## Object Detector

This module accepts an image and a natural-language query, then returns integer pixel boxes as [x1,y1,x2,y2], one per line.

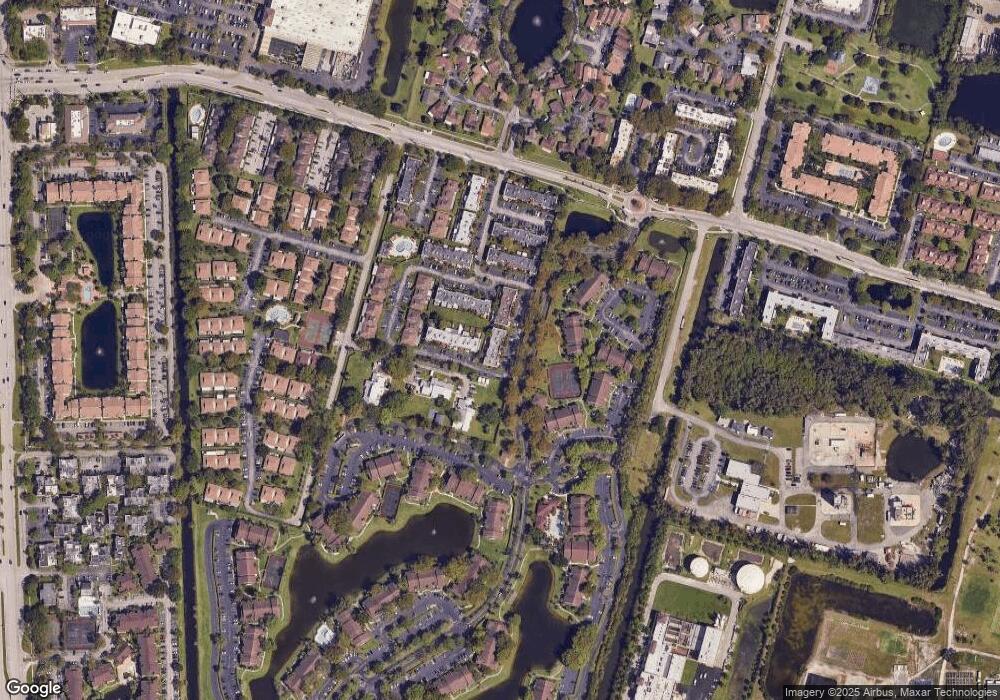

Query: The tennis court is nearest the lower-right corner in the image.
[550,362,581,398]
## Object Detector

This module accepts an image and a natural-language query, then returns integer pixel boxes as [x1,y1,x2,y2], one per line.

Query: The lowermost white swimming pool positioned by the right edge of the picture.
[939,357,963,376]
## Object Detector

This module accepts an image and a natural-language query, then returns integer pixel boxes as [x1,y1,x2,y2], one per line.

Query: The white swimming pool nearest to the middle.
[390,235,416,257]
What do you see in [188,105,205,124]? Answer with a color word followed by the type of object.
white swimming pool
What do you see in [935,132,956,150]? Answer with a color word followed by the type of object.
white swimming pool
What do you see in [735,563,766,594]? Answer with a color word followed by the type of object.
white storage tank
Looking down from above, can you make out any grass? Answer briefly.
Yes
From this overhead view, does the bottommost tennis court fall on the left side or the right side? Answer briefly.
left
